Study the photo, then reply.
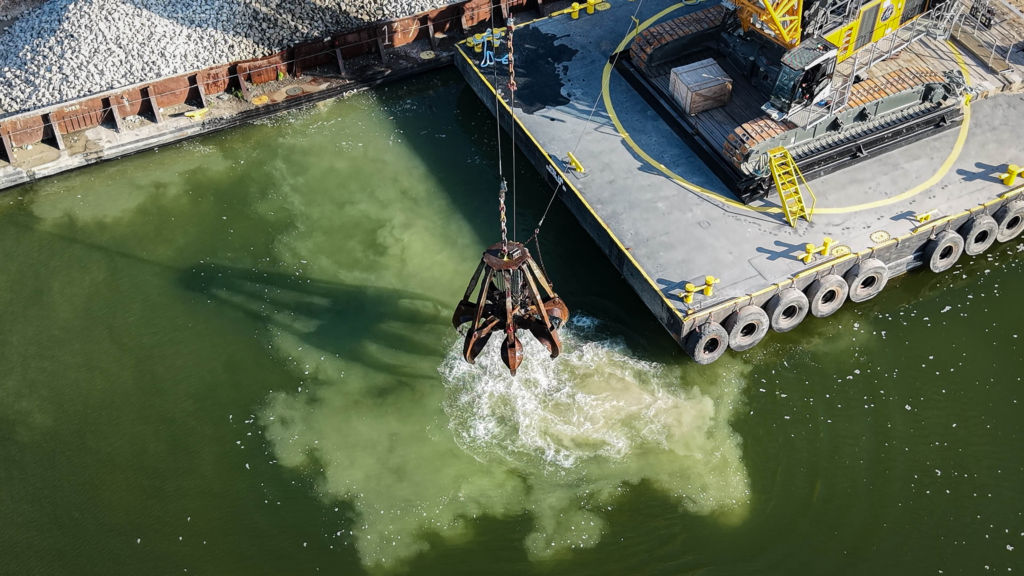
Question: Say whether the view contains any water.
Yes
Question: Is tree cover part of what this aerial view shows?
No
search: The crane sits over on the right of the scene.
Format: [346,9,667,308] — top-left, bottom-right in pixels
[628,0,955,171]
